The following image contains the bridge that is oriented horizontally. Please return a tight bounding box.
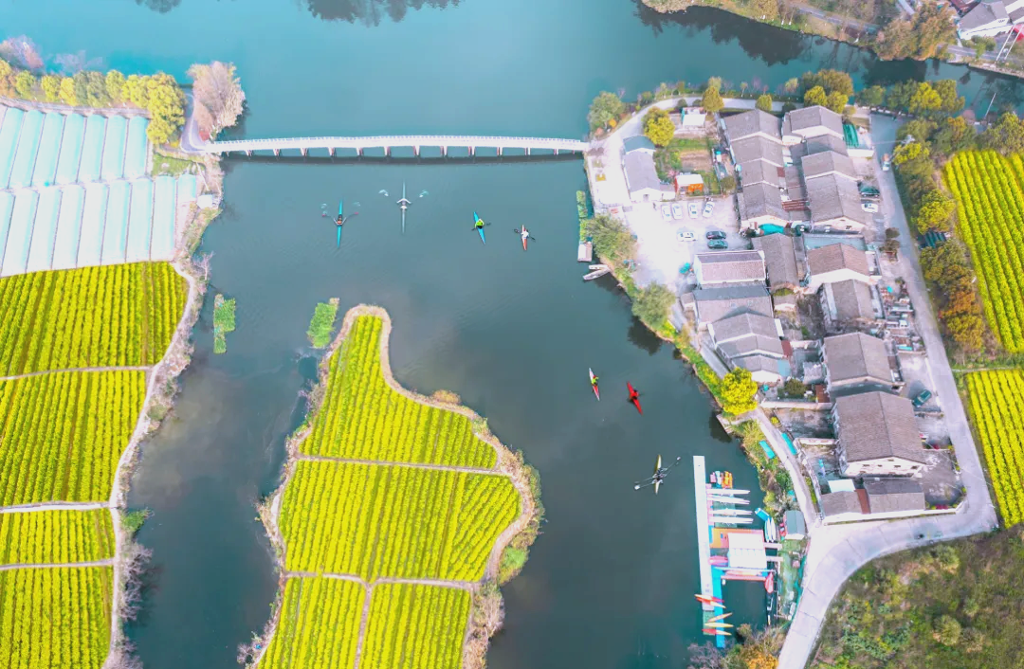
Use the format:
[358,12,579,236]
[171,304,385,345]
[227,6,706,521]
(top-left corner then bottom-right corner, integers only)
[203,135,587,156]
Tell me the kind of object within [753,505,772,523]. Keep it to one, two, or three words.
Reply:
boat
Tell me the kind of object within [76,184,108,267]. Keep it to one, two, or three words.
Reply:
greenhouse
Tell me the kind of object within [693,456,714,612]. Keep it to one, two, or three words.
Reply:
pier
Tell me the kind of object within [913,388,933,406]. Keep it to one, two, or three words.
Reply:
car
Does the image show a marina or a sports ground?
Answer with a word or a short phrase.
marina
